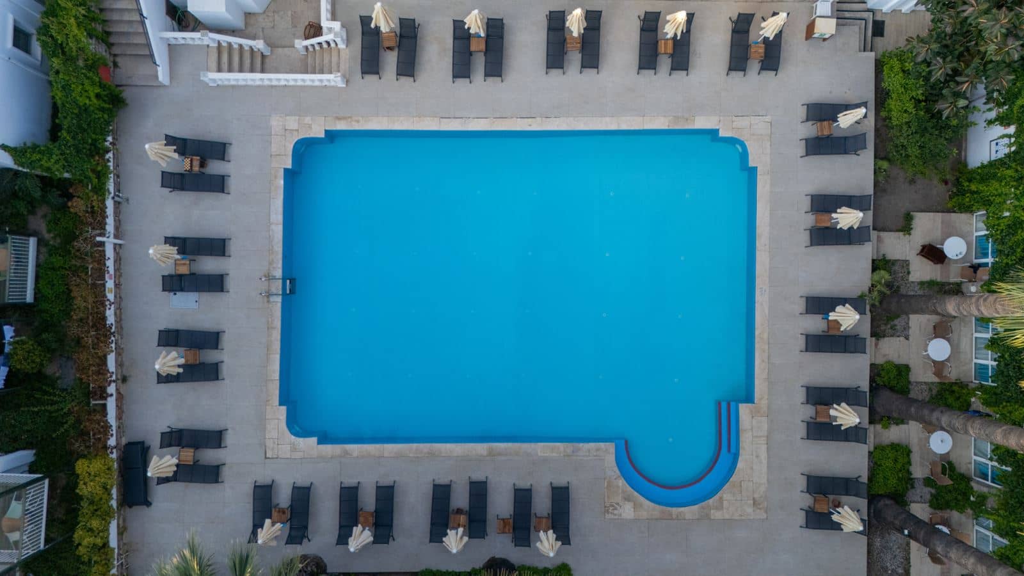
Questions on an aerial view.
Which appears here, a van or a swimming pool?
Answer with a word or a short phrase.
swimming pool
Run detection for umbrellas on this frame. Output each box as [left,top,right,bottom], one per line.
[467,10,488,40]
[757,14,786,44]
[827,503,862,531]
[825,405,859,426]
[375,2,399,33]
[445,521,469,552]
[148,455,180,477]
[145,143,182,164]
[539,529,560,556]
[156,353,191,375]
[826,209,862,231]
[258,517,287,543]
[662,11,686,41]
[824,305,860,329]
[565,9,587,40]
[150,241,186,264]
[831,108,865,131]
[349,523,371,551]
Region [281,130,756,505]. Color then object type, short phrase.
blue swimming pool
